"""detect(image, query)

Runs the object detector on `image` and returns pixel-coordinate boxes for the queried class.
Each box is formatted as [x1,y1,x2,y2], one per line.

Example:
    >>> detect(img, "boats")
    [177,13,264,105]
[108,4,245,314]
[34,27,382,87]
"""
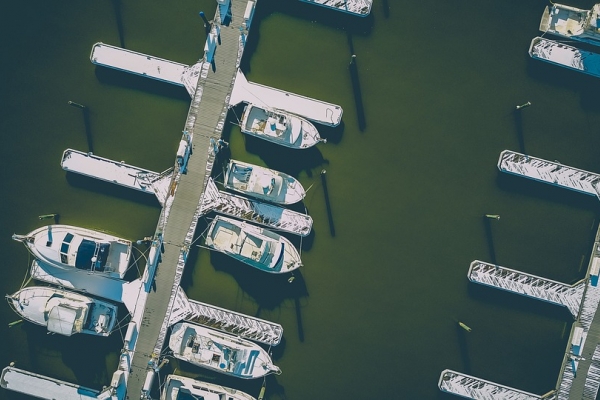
[240,104,327,150]
[223,160,310,204]
[2,285,120,337]
[199,214,305,271]
[170,324,284,378]
[163,369,248,400]
[540,0,600,49]
[11,227,135,282]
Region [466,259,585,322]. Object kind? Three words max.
pier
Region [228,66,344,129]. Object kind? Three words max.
pier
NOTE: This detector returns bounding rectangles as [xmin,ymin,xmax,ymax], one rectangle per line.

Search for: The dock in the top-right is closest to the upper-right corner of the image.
[526,36,600,78]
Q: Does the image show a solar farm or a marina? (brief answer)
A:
marina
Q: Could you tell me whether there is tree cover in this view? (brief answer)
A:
No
